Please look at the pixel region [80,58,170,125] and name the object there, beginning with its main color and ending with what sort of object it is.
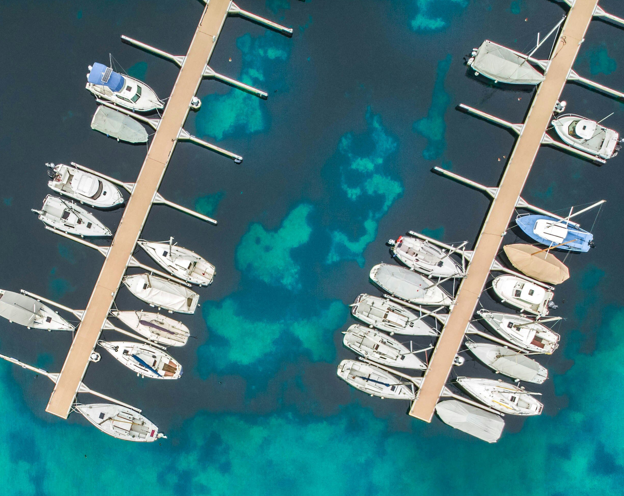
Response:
white boat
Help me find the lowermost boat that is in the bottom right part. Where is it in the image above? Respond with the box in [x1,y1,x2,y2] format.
[435,400,503,444]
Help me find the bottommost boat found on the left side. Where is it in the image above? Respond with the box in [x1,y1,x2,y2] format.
[70,394,165,445]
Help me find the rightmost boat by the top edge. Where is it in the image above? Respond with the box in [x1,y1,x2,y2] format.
[463,14,567,91]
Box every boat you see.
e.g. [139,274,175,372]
[444,373,546,416]
[0,289,83,348]
[463,14,567,91]
[435,400,503,444]
[469,299,566,353]
[90,105,160,154]
[105,299,194,346]
[338,327,435,378]
[388,233,469,287]
[70,394,165,445]
[494,235,576,289]
[546,111,623,159]
[484,267,562,314]
[348,297,445,346]
[508,200,610,252]
[92,333,181,380]
[80,58,170,125]
[336,361,419,407]
[37,163,134,213]
[457,332,555,384]
[368,264,458,314]
[116,268,203,314]
[134,230,216,287]
[31,193,120,251]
